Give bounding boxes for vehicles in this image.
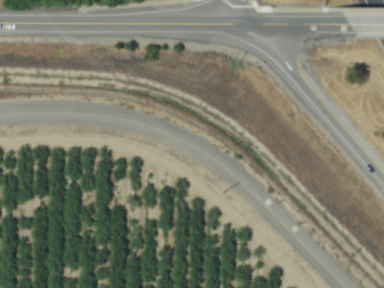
[3,24,16,29]
[366,162,376,173]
